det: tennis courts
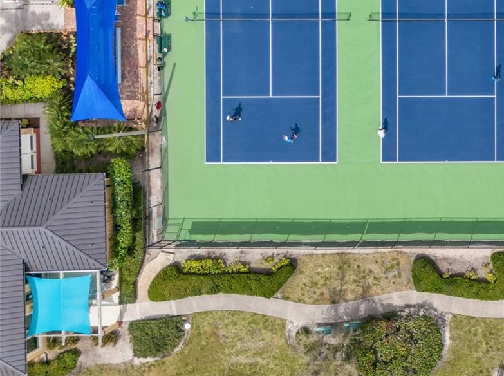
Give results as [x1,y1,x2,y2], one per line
[380,0,504,163]
[204,0,336,163]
